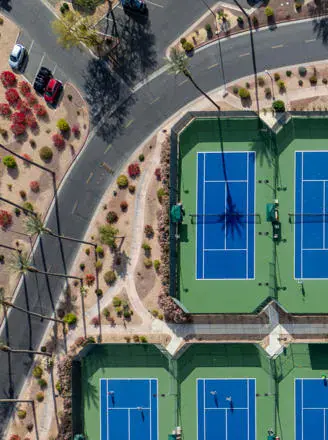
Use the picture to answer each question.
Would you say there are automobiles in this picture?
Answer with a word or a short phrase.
Yes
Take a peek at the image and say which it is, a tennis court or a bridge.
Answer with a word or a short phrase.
tennis court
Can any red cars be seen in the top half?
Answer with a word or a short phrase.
Yes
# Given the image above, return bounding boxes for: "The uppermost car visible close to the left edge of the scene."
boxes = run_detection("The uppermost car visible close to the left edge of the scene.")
[6,44,25,69]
